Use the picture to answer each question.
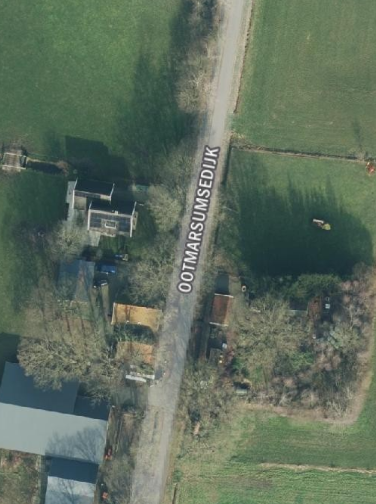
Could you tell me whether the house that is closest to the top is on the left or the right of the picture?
left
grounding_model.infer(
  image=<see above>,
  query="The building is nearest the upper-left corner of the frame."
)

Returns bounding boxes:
[73,178,114,217]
